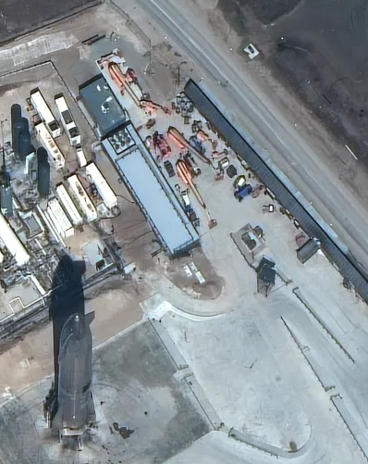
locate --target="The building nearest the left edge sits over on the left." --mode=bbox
[23,214,47,239]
